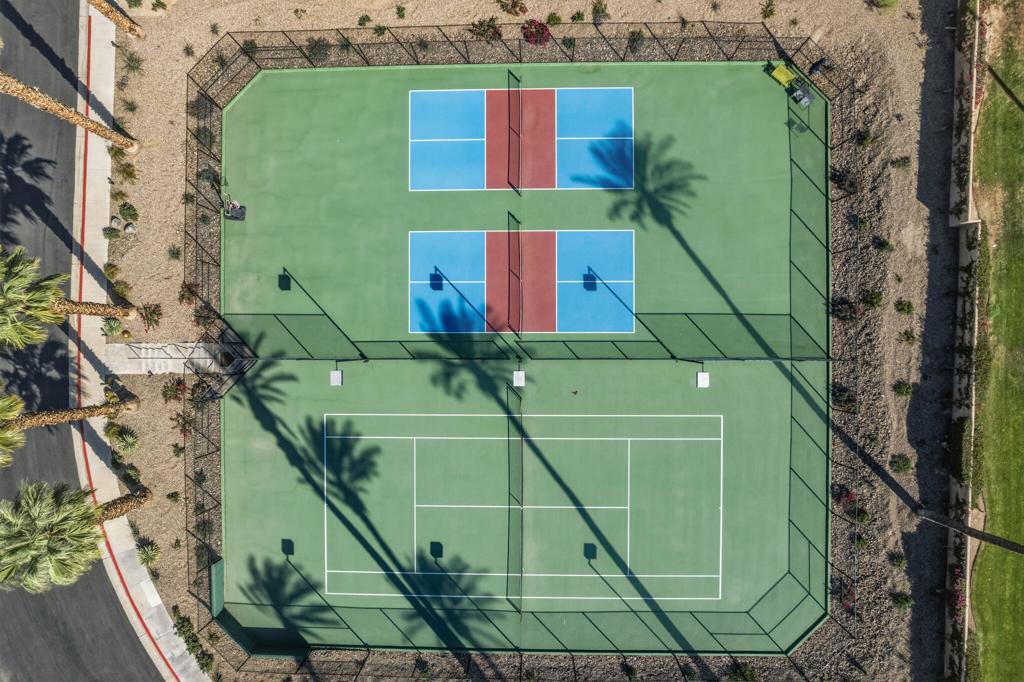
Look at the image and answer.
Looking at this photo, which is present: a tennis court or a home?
tennis court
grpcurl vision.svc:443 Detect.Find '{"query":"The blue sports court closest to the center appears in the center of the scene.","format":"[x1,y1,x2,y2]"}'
[408,230,635,333]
